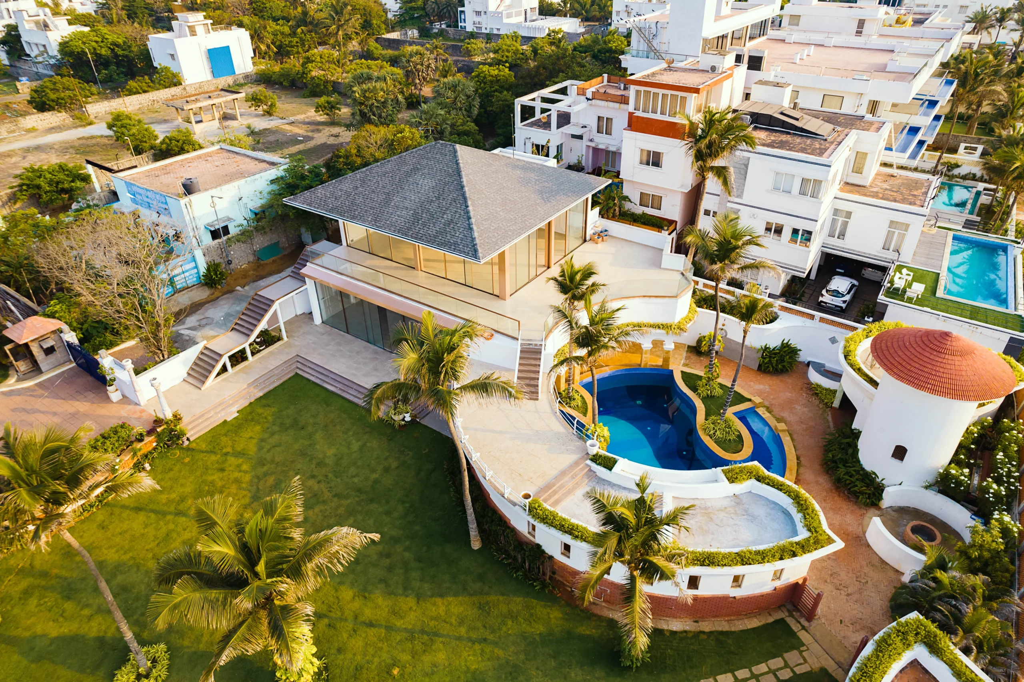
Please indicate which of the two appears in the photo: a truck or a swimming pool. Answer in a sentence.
This aerial view contains a swimming pool.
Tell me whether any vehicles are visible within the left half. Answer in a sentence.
No, within the left half there is no vehicle.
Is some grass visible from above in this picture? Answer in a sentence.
Yes, grass shows up in the scene.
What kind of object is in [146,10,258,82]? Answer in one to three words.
building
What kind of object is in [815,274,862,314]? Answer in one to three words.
car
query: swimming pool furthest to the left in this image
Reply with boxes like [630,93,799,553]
[551,317,797,483]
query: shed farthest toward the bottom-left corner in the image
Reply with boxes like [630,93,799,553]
[1,312,72,382]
